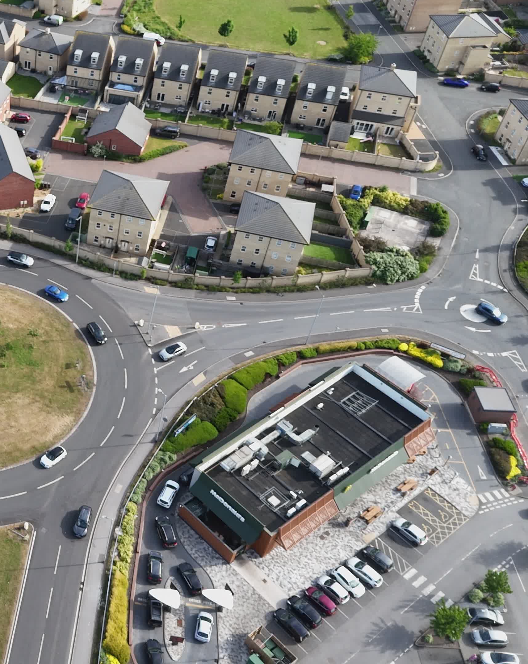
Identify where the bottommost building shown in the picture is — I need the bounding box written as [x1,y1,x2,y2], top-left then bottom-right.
[243,623,299,664]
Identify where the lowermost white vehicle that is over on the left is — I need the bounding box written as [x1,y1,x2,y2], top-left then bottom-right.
[193,608,217,647]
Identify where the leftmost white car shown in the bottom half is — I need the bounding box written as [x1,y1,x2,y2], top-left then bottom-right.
[38,445,69,470]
